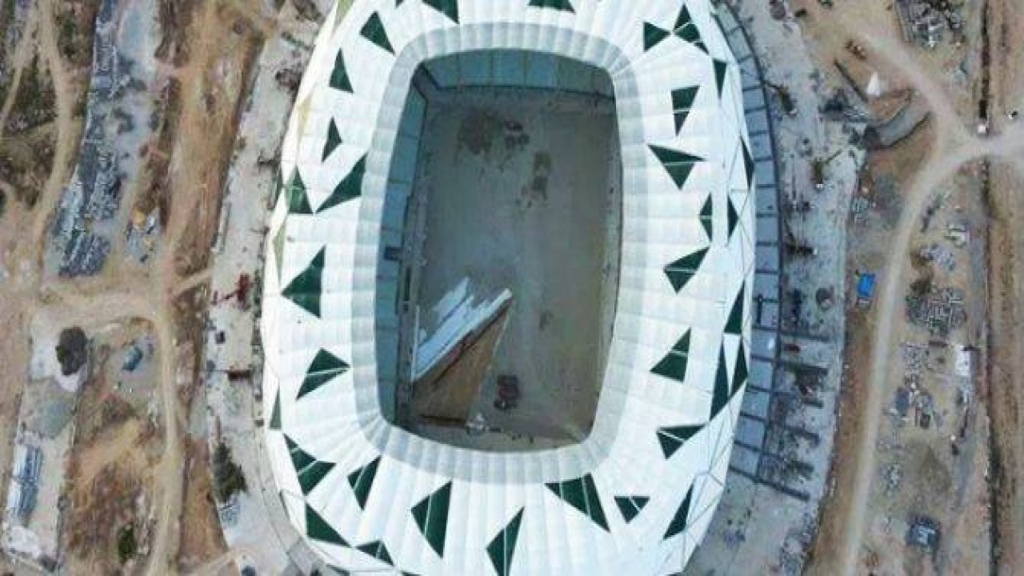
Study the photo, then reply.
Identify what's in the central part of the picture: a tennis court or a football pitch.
football pitch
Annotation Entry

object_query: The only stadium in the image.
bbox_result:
[261,0,756,576]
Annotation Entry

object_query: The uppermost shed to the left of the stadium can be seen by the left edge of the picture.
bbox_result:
[6,444,39,486]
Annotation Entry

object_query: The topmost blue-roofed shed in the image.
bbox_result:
[857,272,879,296]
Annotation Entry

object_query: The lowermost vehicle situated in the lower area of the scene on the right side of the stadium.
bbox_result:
[797,381,819,399]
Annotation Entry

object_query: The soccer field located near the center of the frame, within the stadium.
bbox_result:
[386,88,622,453]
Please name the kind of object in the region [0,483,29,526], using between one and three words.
shed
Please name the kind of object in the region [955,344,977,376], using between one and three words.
shed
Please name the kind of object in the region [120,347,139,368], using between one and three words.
vehicle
